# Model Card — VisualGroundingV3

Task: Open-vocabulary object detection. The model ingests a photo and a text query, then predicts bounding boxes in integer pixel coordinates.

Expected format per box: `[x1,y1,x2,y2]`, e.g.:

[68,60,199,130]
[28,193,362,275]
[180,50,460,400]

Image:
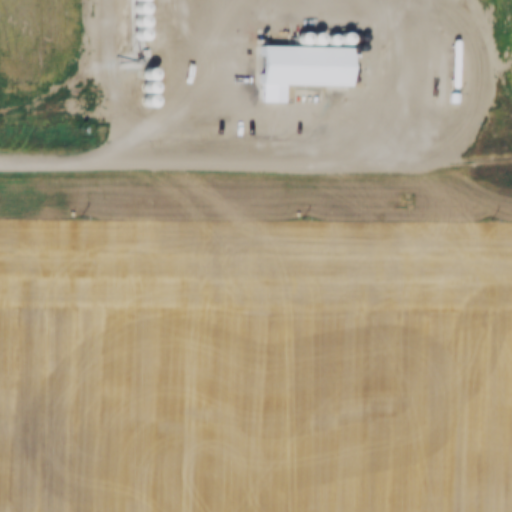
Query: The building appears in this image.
[256,42,361,106]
